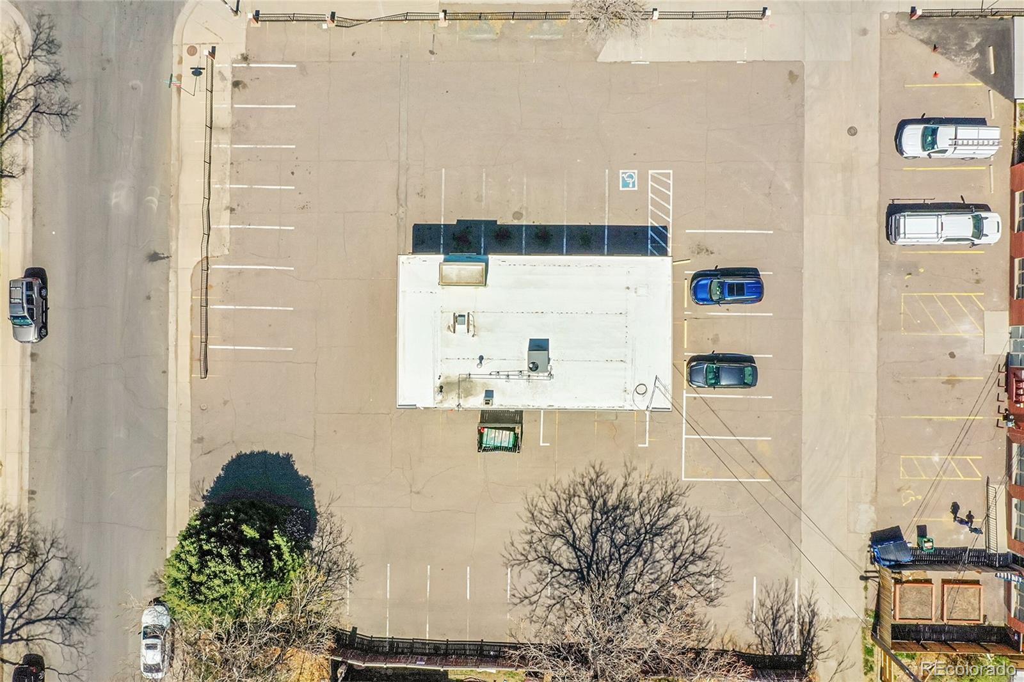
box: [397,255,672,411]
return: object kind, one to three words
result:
building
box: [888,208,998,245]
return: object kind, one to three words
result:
truck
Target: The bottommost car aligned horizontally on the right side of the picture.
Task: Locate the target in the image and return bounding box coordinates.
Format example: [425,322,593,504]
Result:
[686,359,757,392]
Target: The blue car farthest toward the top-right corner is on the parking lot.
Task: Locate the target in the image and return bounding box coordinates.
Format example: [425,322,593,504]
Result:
[688,273,763,307]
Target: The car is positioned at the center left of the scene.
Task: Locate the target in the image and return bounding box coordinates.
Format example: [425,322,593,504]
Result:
[8,276,50,344]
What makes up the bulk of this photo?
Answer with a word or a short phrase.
paved ground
